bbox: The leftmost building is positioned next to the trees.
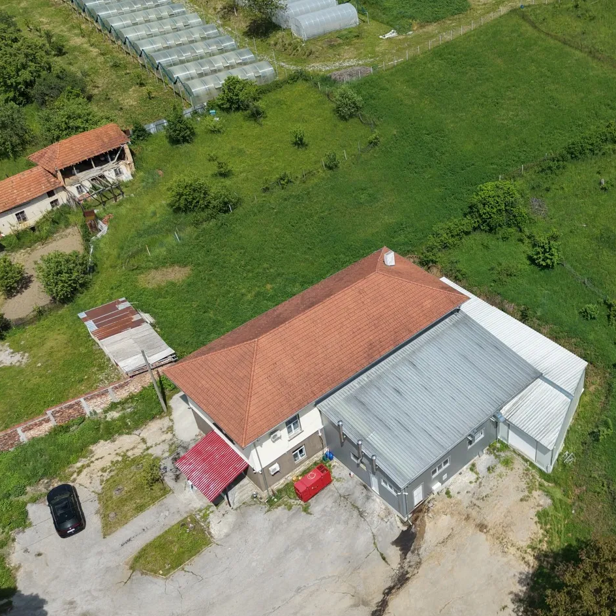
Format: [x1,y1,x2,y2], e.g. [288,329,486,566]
[0,164,66,235]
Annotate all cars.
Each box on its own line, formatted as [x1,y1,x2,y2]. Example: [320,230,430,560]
[45,485,88,543]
